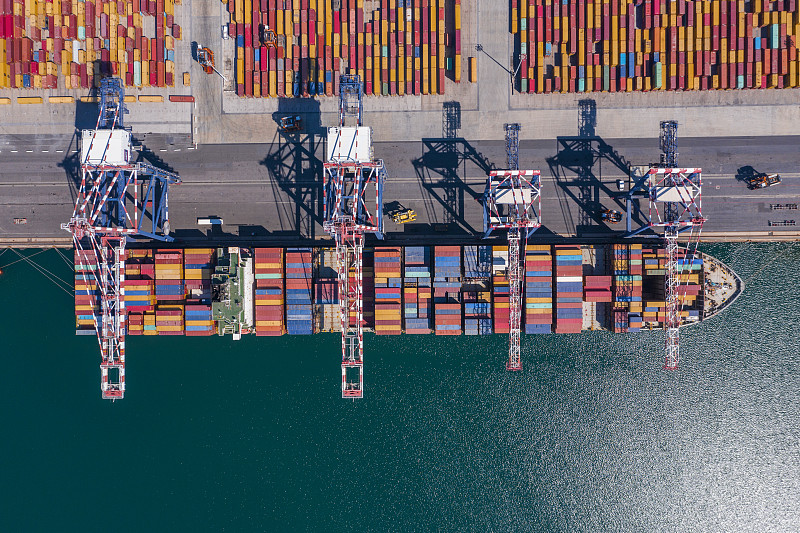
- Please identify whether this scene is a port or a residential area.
port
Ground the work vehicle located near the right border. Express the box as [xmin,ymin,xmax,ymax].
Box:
[748,174,781,191]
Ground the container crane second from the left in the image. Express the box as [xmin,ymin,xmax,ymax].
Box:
[321,76,393,404]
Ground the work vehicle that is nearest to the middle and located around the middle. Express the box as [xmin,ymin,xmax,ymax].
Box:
[394,208,416,224]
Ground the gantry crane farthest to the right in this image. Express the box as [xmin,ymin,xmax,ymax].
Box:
[605,119,714,370]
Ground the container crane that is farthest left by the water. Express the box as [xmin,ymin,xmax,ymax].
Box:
[61,78,184,406]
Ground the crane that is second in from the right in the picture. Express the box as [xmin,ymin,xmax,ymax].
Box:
[466,120,547,372]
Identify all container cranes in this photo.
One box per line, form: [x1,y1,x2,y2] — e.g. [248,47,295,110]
[61,78,184,406]
[466,120,547,372]
[321,76,393,404]
[605,119,714,370]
